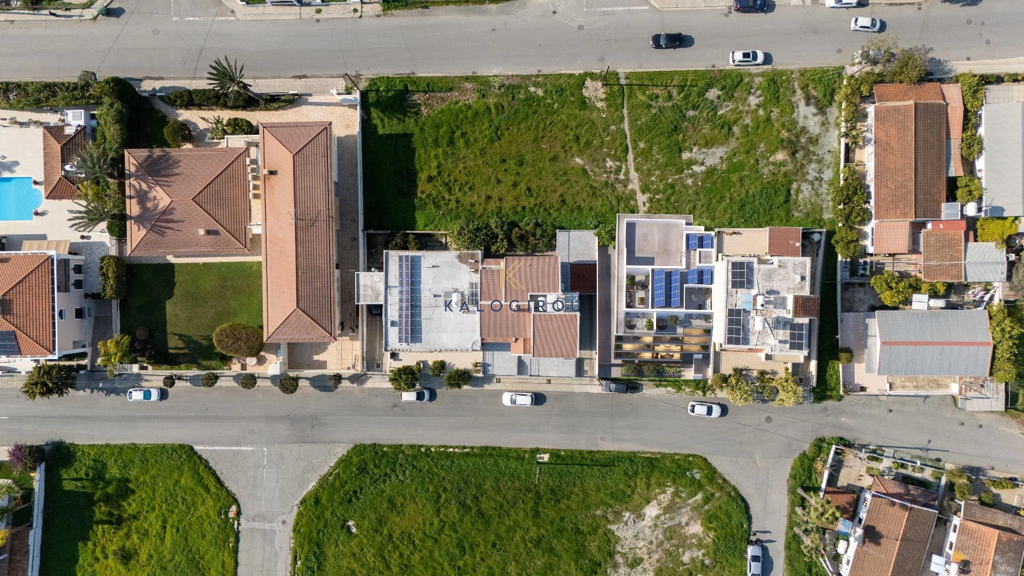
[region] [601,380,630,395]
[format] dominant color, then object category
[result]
gray car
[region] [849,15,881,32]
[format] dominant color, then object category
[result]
white car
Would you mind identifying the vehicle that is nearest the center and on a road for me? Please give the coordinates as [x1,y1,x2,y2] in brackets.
[502,391,534,408]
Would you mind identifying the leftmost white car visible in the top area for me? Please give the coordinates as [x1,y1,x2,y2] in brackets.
[729,48,764,66]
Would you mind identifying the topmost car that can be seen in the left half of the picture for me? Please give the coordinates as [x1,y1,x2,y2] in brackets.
[368,304,384,326]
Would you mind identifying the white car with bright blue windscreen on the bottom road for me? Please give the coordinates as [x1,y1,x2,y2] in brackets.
[127,387,162,403]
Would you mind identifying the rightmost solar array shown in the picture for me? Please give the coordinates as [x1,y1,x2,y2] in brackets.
[791,323,806,351]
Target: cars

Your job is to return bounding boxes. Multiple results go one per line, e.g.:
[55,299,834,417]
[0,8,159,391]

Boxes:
[368,304,384,326]
[849,15,881,32]
[687,401,721,419]
[601,380,630,395]
[824,0,859,9]
[502,391,534,408]
[650,30,684,48]
[732,0,766,13]
[399,388,430,404]
[747,545,764,576]
[127,387,162,403]
[729,48,764,66]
